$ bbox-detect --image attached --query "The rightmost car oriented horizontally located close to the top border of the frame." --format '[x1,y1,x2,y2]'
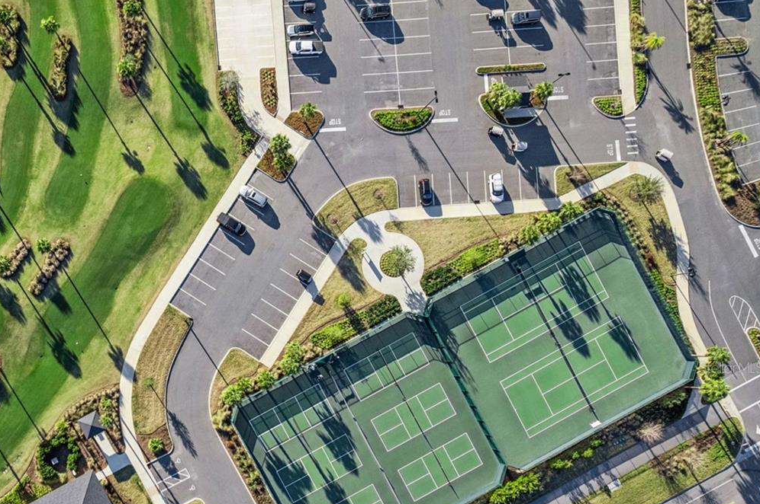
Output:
[509,10,542,25]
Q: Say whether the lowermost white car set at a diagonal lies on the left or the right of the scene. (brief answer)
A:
left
